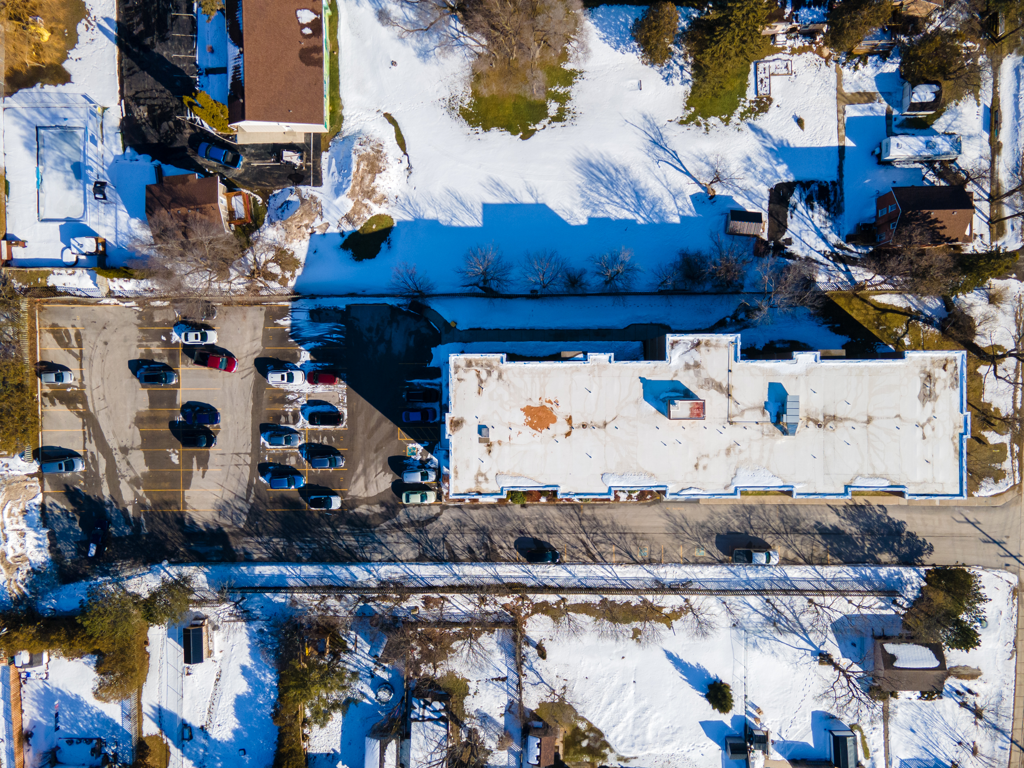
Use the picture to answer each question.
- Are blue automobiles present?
Yes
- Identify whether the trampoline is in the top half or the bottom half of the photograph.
bottom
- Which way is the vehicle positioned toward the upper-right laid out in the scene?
from side to side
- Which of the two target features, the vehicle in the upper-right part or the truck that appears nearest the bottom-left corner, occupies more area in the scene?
the vehicle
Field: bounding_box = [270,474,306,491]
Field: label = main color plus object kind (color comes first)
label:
blue car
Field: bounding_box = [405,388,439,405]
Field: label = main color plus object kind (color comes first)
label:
black car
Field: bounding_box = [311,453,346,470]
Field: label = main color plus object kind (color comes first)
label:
blue car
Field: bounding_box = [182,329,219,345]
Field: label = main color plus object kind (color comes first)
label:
white car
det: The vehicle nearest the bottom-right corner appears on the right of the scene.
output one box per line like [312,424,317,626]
[733,548,777,566]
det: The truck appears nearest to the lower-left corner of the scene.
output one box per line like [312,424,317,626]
[87,518,112,559]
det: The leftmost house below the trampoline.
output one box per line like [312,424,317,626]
[365,730,397,768]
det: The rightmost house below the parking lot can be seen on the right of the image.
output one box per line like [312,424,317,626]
[874,639,947,691]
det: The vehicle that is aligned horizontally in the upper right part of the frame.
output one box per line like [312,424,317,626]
[873,136,962,162]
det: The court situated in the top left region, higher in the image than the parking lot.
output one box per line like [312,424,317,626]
[37,126,86,220]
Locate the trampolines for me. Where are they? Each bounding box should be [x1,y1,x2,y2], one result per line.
[372,684,393,708]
